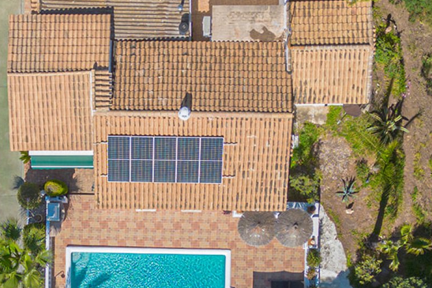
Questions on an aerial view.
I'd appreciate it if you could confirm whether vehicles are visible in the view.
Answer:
No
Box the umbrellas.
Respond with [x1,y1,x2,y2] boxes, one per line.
[236,206,276,248]
[270,203,314,247]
